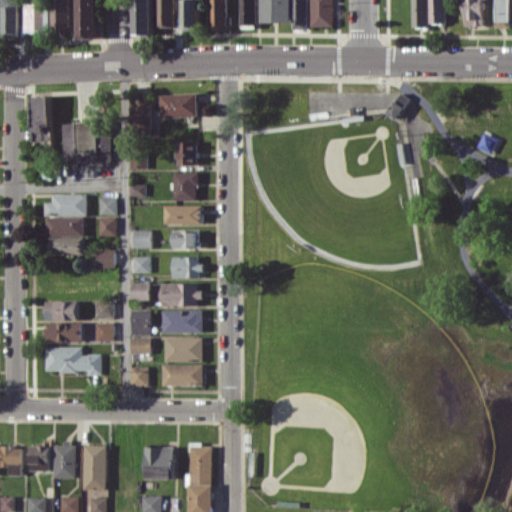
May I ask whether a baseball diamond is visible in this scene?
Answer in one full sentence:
Yes, there's a baseball diamond down there.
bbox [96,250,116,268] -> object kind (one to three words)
building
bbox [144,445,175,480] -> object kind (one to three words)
house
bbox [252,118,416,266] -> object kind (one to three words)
baseball field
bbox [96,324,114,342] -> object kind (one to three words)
building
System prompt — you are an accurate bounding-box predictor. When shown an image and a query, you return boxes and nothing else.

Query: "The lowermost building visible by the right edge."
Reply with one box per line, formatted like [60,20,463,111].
[476,133,500,156]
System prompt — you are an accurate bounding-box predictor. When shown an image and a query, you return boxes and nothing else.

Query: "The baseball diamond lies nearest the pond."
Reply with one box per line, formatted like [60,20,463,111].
[252,264,494,512]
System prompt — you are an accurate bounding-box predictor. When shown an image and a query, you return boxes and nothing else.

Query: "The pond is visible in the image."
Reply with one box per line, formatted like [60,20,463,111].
[488,397,512,503]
